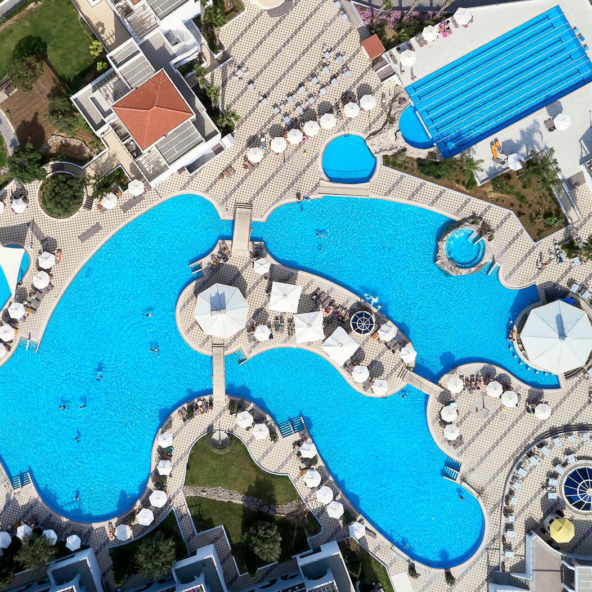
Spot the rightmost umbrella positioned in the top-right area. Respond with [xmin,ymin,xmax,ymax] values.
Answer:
[554,113,573,131]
